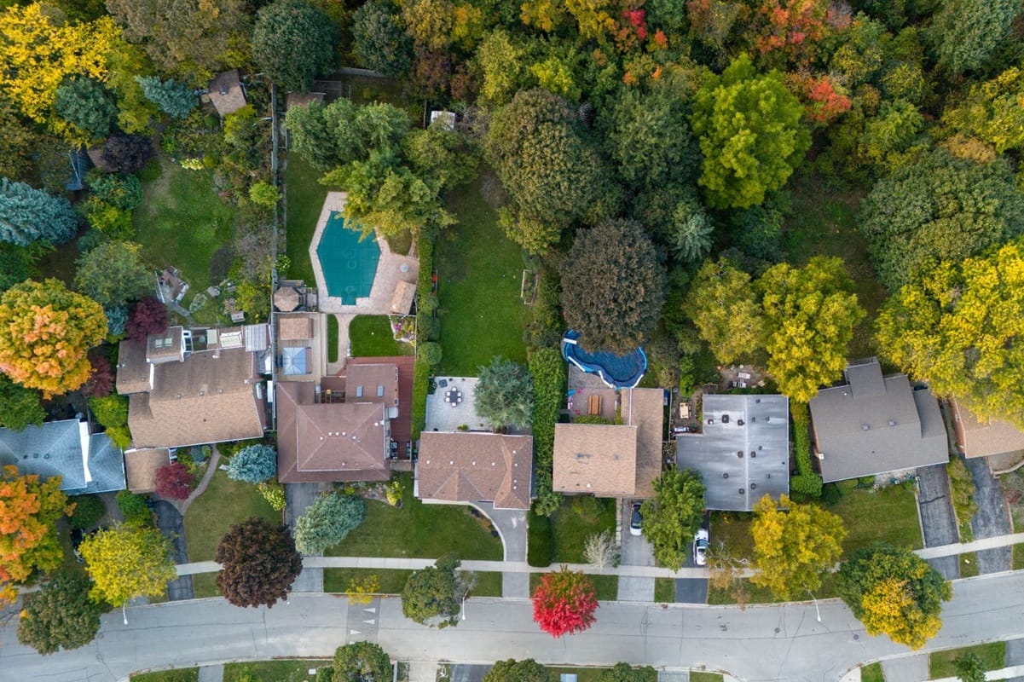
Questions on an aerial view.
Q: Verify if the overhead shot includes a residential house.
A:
Yes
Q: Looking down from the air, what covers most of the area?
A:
trees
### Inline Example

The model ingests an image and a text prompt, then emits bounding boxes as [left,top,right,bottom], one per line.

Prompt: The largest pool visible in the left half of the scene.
[313,208,384,309]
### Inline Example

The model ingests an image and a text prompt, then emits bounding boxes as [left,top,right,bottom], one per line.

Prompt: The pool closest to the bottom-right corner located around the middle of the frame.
[561,328,645,389]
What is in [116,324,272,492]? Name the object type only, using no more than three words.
house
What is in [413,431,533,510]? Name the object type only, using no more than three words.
house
